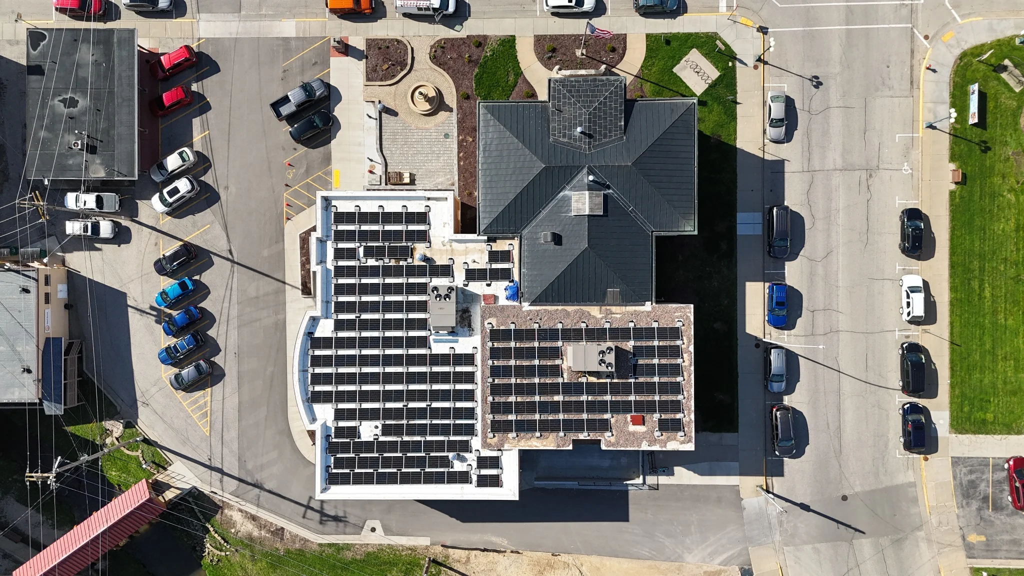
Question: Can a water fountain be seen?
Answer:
Yes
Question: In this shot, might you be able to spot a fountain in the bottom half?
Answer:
No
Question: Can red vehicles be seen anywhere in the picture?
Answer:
Yes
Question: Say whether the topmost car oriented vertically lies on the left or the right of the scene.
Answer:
right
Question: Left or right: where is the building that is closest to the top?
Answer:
left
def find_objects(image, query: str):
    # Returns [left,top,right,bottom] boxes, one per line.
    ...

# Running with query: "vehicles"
[898,402,926,452]
[396,0,455,24]
[150,83,197,120]
[151,146,202,184]
[153,241,202,277]
[52,0,109,18]
[769,404,796,456]
[154,275,200,309]
[121,0,176,13]
[765,282,790,329]
[898,209,925,256]
[267,78,332,122]
[545,0,595,14]
[64,217,120,239]
[898,343,926,396]
[162,304,208,338]
[764,91,788,143]
[764,345,788,393]
[65,190,124,213]
[322,0,375,17]
[158,330,208,366]
[286,109,336,143]
[151,44,201,82]
[766,205,792,258]
[168,357,217,392]
[152,175,203,213]
[899,275,927,321]
[633,0,678,15]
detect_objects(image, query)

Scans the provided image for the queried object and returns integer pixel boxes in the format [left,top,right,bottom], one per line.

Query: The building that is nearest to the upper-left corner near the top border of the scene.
[26,28,148,188]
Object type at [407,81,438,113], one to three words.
fountain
